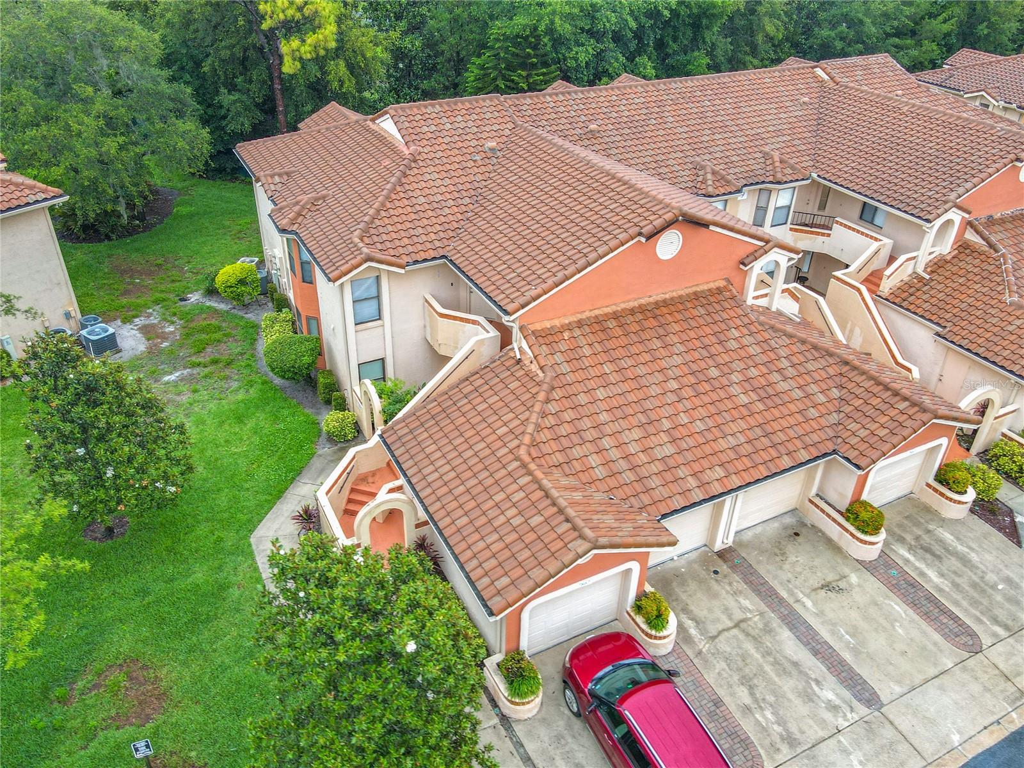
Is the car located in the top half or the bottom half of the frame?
bottom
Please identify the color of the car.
red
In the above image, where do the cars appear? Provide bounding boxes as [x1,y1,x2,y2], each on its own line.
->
[559,629,745,768]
